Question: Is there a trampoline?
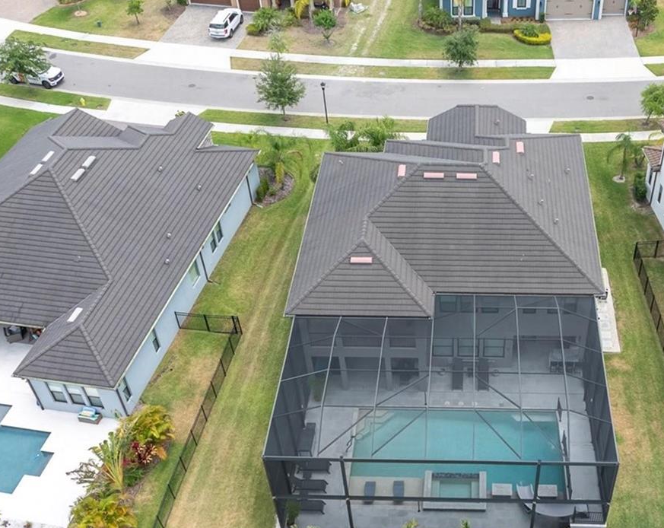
No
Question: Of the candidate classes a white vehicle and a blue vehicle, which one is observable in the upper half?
white vehicle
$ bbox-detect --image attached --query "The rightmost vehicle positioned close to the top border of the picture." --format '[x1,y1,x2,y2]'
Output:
[209,10,247,36]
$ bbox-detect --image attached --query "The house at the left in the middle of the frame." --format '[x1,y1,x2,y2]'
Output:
[0,101,271,420]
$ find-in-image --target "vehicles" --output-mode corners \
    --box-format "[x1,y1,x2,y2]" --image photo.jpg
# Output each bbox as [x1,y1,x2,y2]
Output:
[0,63,68,90]
[209,10,247,36]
